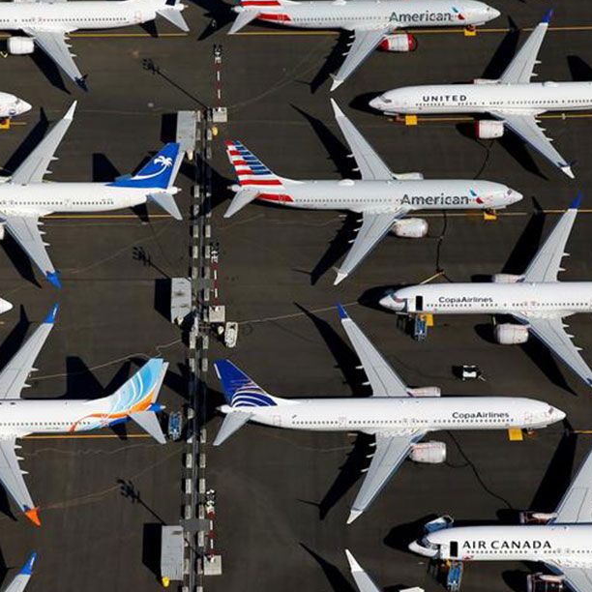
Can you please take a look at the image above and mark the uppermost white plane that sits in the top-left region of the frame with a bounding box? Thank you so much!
[0,0,188,90]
